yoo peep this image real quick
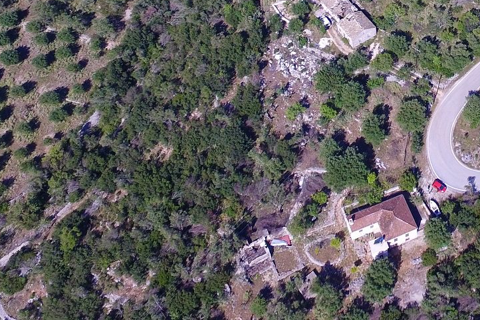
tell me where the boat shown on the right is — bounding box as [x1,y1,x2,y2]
[430,199,443,218]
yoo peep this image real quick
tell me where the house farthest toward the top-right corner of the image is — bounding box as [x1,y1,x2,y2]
[315,0,376,49]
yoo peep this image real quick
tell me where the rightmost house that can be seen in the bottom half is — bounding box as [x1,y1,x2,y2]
[344,191,419,270]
